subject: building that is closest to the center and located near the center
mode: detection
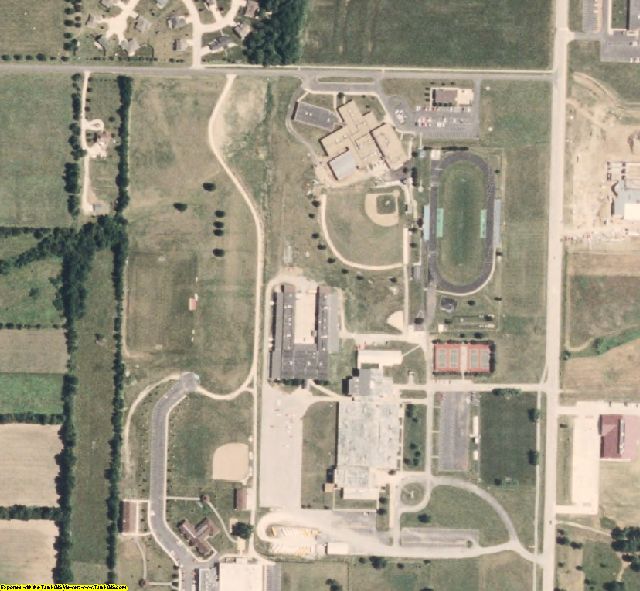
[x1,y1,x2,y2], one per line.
[276,284,339,380]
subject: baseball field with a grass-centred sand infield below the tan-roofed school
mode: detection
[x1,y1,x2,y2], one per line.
[321,190,403,270]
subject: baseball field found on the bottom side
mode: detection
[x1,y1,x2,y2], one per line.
[212,443,249,480]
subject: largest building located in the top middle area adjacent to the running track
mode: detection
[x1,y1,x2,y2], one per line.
[319,99,408,179]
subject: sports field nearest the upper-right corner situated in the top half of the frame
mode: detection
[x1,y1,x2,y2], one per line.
[437,158,488,285]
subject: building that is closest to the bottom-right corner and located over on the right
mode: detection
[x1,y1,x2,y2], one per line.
[601,415,640,459]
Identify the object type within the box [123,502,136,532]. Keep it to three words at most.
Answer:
building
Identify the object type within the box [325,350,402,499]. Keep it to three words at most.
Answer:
building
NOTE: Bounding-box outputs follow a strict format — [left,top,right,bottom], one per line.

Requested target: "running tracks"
[428,151,496,292]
